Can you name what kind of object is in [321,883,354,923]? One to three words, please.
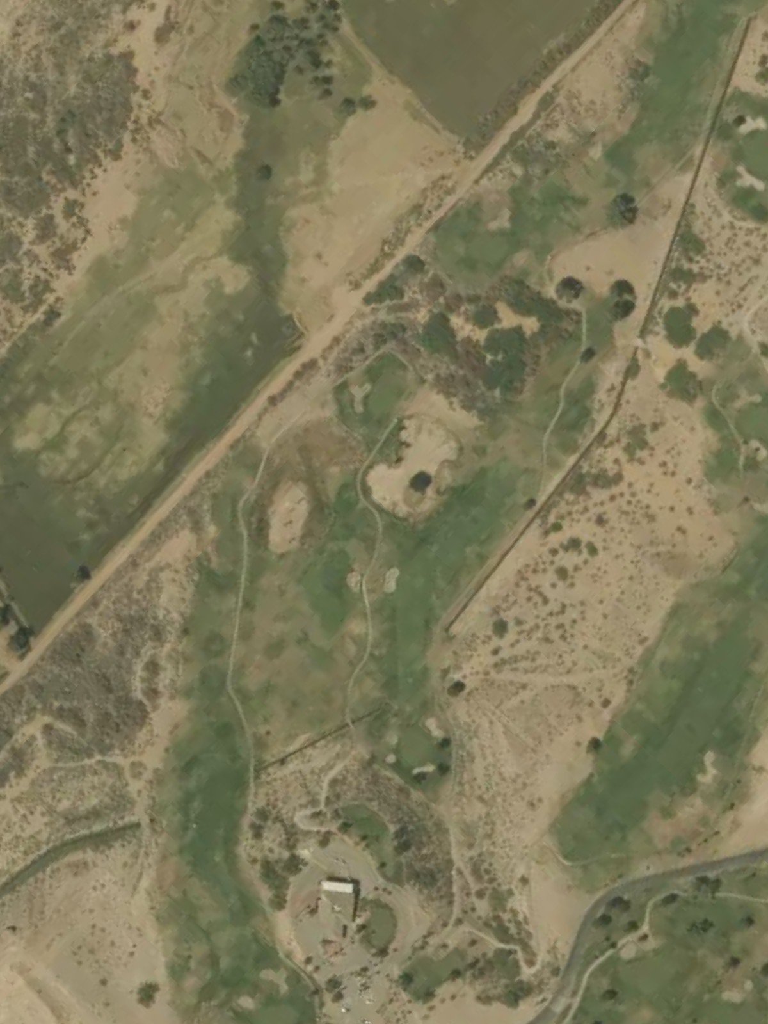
building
